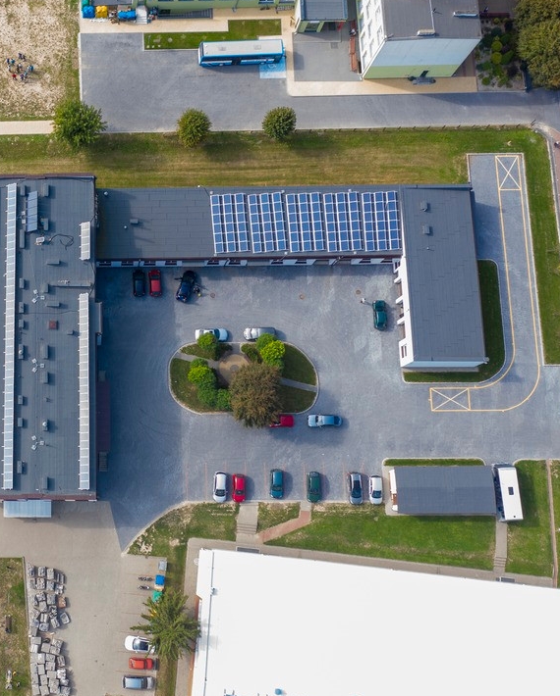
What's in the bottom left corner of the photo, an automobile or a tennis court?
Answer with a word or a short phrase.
automobile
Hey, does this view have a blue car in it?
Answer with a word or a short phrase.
Yes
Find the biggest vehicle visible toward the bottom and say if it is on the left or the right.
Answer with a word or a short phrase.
right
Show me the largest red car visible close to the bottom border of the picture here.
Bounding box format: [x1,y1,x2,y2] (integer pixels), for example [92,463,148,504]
[127,657,153,672]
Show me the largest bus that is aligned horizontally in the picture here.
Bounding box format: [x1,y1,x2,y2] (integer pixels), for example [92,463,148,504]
[199,37,288,66]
